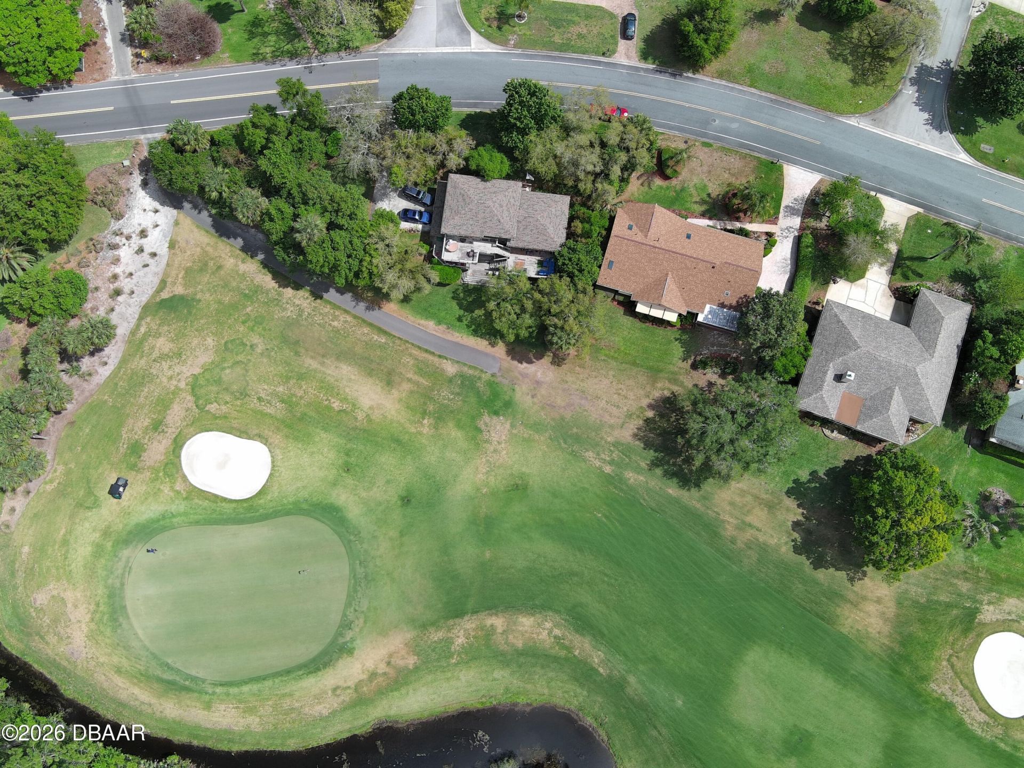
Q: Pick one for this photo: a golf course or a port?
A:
golf course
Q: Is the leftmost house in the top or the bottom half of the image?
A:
top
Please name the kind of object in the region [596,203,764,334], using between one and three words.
house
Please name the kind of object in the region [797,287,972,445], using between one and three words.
house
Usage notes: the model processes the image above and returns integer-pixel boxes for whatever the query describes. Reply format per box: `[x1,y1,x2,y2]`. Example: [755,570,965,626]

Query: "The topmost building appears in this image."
[430,174,570,253]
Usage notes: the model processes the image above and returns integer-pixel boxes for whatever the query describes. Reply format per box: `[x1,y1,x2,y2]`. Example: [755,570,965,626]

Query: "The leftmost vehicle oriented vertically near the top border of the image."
[623,13,636,41]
